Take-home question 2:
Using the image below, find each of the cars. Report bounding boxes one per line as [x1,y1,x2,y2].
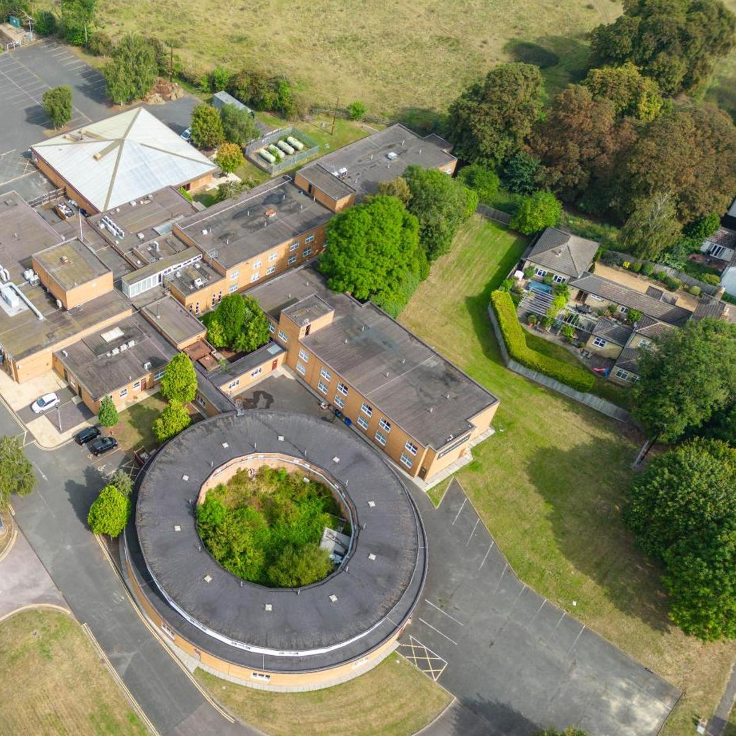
[28,390,62,413]
[180,126,193,143]
[68,424,104,448]
[84,433,122,458]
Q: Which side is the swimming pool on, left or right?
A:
right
